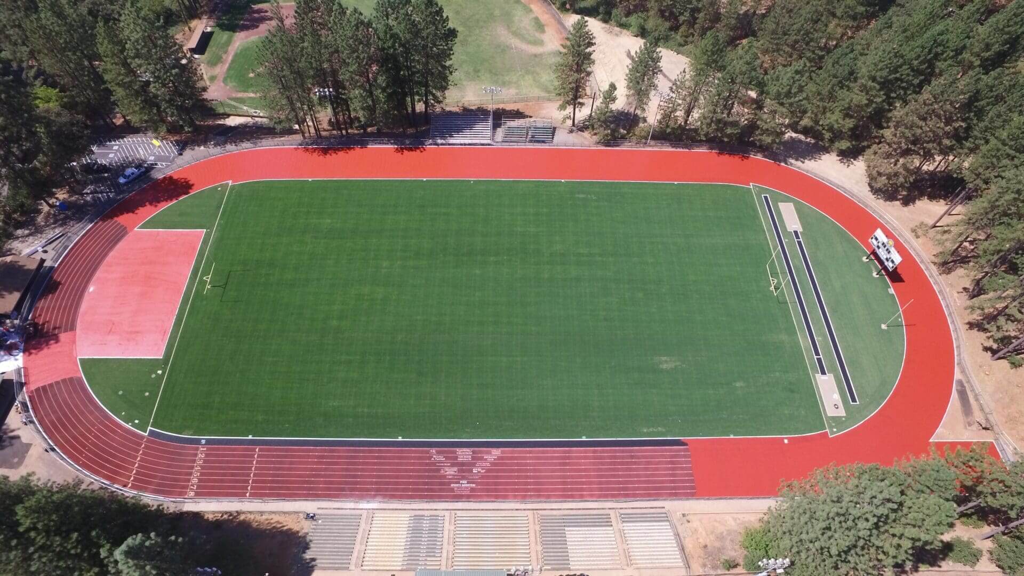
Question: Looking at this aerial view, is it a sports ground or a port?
sports ground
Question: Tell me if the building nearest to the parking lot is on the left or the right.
left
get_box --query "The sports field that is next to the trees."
[150,179,828,439]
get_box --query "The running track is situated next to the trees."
[23,146,1011,500]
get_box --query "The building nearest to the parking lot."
[0,255,47,325]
